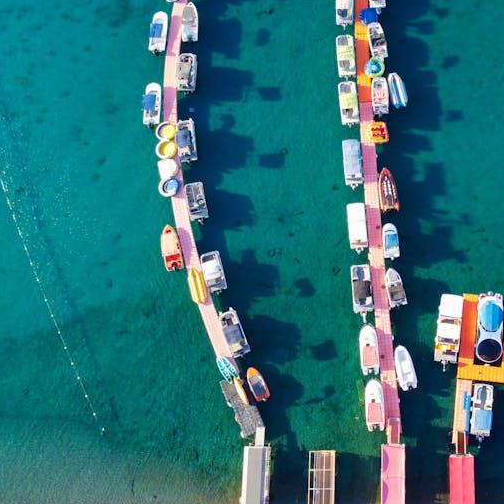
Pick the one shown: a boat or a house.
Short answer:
boat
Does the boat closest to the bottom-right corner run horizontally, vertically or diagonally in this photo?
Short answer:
vertically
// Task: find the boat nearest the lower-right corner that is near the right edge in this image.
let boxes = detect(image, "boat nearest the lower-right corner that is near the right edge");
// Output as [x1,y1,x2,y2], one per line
[469,385,493,446]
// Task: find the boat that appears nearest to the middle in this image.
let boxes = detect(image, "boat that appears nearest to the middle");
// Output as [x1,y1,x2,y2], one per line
[198,252,227,301]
